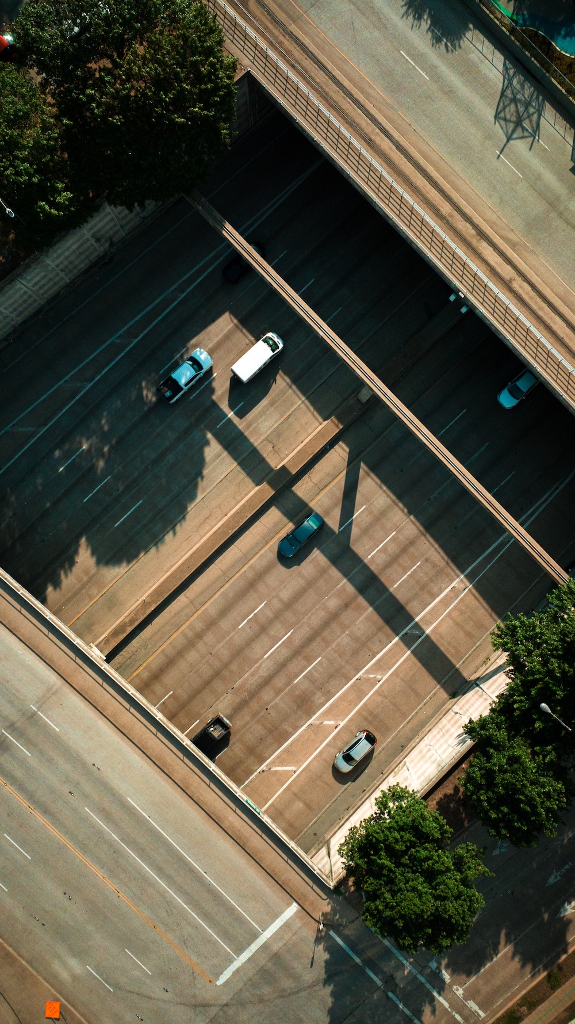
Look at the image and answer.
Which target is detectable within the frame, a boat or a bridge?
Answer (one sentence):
Of the two, only a bridge appears.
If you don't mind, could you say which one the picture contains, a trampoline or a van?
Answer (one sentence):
Looking from above, you can make out a van.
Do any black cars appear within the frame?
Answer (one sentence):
Yes, there is a black car in the image.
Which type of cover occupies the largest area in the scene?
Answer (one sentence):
The bulk of the photo consists of paved ground.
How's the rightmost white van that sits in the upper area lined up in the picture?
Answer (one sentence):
In this picture, the rightmost white van that sits in the upper area lies on a diagonal.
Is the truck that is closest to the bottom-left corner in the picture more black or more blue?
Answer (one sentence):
The truck that is closest to the bottom-left corner looks black in the image.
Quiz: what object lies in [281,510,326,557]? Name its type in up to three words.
car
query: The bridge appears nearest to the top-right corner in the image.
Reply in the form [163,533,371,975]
[245,67,575,416]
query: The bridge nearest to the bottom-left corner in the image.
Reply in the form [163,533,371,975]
[0,567,341,905]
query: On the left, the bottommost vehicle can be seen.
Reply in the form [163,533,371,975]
[186,711,234,759]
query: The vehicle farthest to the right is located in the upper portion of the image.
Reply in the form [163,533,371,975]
[499,367,540,408]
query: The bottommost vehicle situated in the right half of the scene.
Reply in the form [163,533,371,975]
[337,730,378,772]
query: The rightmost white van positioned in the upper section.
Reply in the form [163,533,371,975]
[231,335,283,385]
